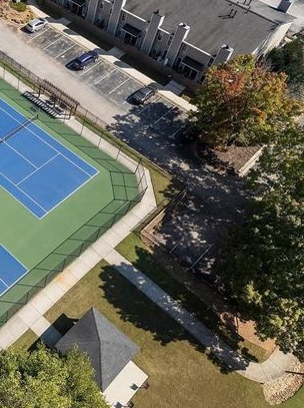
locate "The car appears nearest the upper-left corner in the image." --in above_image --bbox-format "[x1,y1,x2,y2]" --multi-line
[21,19,44,35]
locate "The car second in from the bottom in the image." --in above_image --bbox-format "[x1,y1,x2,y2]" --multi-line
[70,49,97,69]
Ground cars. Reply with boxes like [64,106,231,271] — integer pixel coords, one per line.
[128,86,156,107]
[21,19,44,35]
[70,49,97,69]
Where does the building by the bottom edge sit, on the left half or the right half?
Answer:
left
